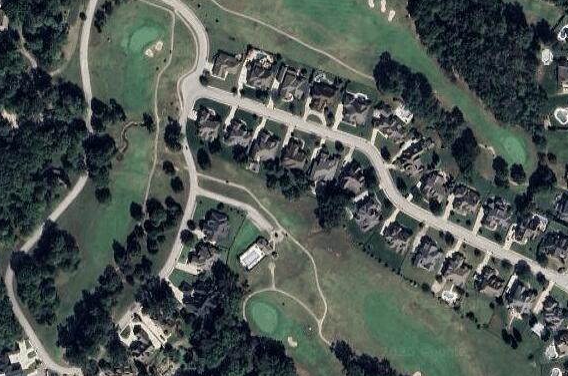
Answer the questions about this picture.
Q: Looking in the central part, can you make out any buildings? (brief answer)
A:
Yes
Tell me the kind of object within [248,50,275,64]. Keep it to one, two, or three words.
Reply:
swimming pool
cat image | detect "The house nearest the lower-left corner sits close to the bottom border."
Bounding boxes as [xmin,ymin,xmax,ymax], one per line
[0,352,23,375]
